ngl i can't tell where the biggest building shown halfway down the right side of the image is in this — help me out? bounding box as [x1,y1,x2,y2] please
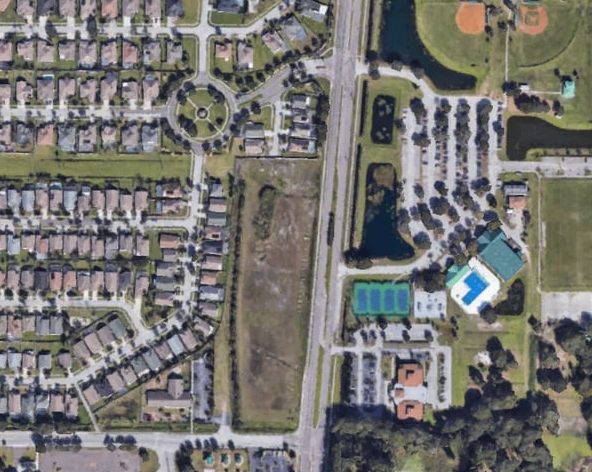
[480,228,526,283]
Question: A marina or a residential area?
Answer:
residential area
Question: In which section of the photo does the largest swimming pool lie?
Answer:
right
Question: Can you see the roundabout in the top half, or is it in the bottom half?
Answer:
top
